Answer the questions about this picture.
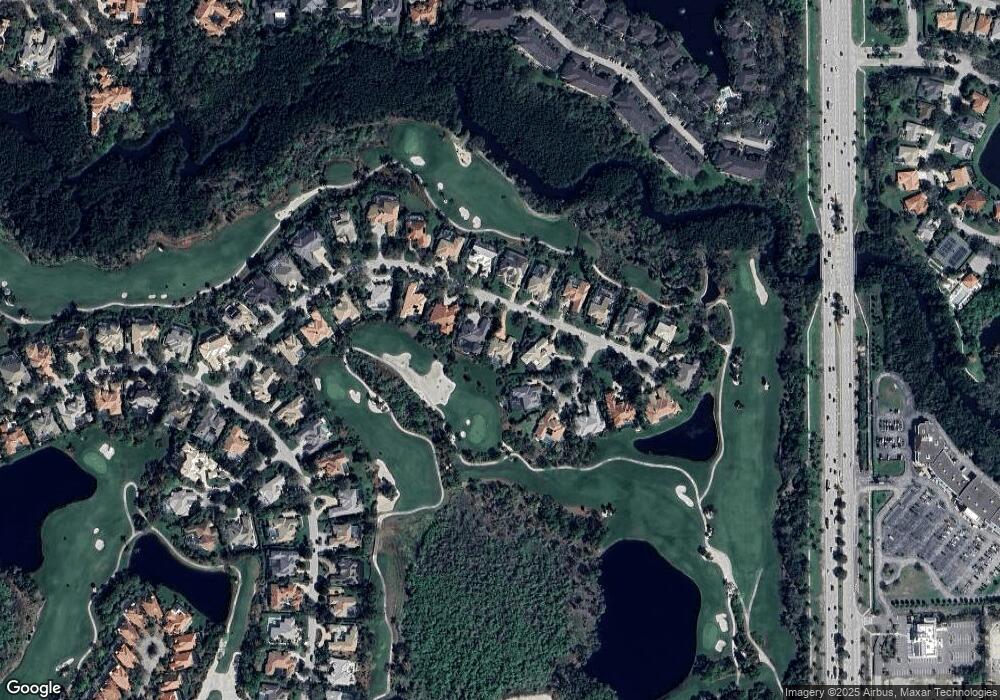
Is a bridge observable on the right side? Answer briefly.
Yes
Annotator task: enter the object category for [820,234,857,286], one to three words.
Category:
bridge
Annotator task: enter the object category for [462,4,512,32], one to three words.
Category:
building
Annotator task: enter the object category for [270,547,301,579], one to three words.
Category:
house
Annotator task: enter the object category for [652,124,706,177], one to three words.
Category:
building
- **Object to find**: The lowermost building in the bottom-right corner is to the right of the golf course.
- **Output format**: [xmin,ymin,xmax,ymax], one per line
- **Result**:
[908,618,947,658]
